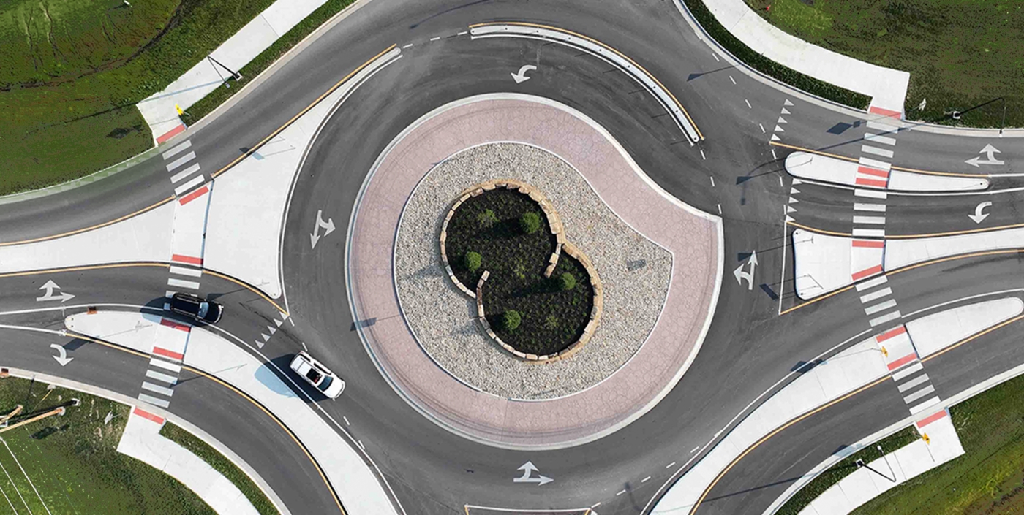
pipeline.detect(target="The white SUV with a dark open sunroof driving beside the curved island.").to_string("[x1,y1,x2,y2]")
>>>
[289,350,344,397]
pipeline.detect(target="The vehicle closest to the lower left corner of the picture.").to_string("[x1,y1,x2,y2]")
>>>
[169,293,223,323]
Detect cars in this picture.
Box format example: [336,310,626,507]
[169,293,223,323]
[289,350,344,397]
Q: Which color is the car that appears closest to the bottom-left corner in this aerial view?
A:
black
